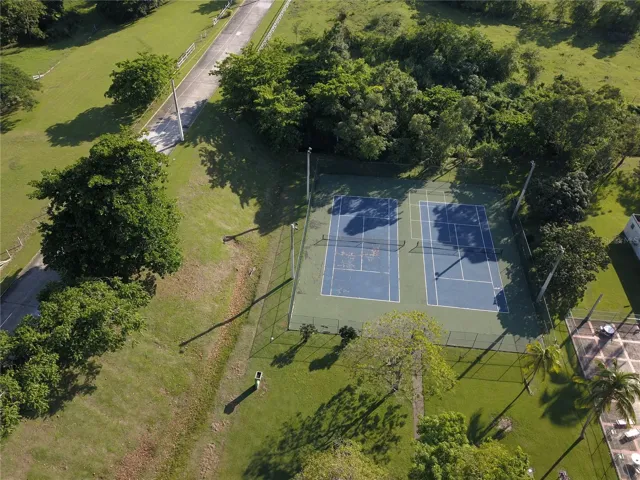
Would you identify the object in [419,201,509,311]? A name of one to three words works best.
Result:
tennis court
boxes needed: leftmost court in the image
[321,195,399,301]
